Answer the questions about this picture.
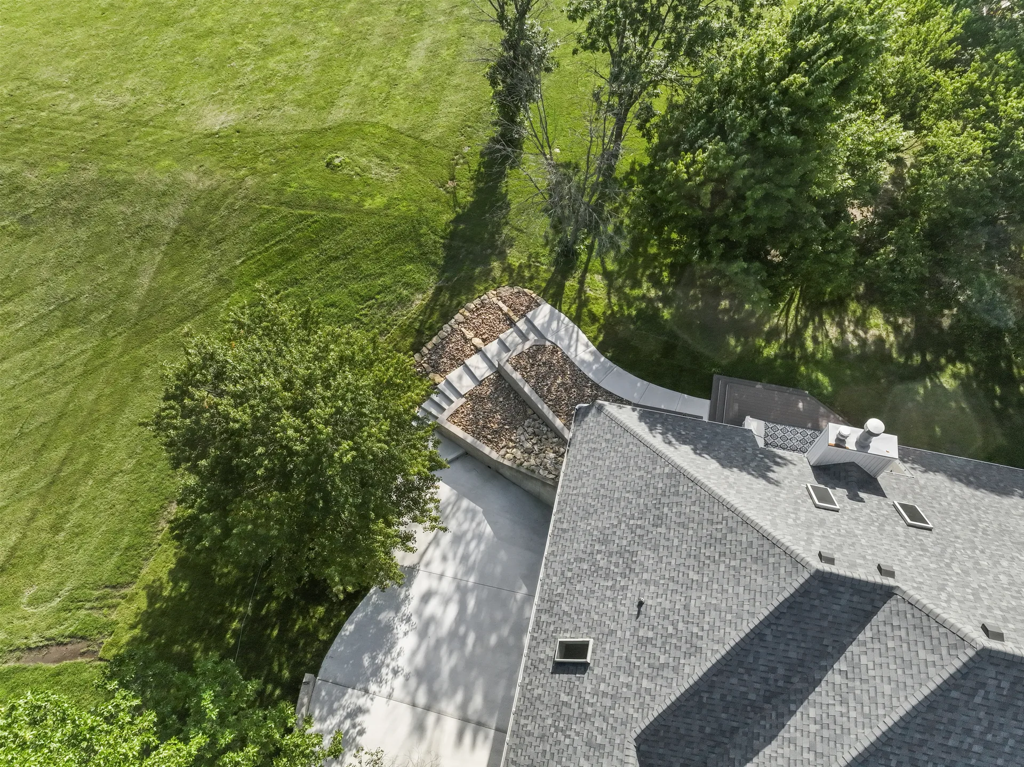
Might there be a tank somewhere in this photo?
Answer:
No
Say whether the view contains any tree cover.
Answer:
Yes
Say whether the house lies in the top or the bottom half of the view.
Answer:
bottom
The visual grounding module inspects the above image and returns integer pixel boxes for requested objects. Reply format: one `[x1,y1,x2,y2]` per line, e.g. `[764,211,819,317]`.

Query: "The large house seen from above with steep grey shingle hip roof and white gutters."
[500,398,1024,767]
